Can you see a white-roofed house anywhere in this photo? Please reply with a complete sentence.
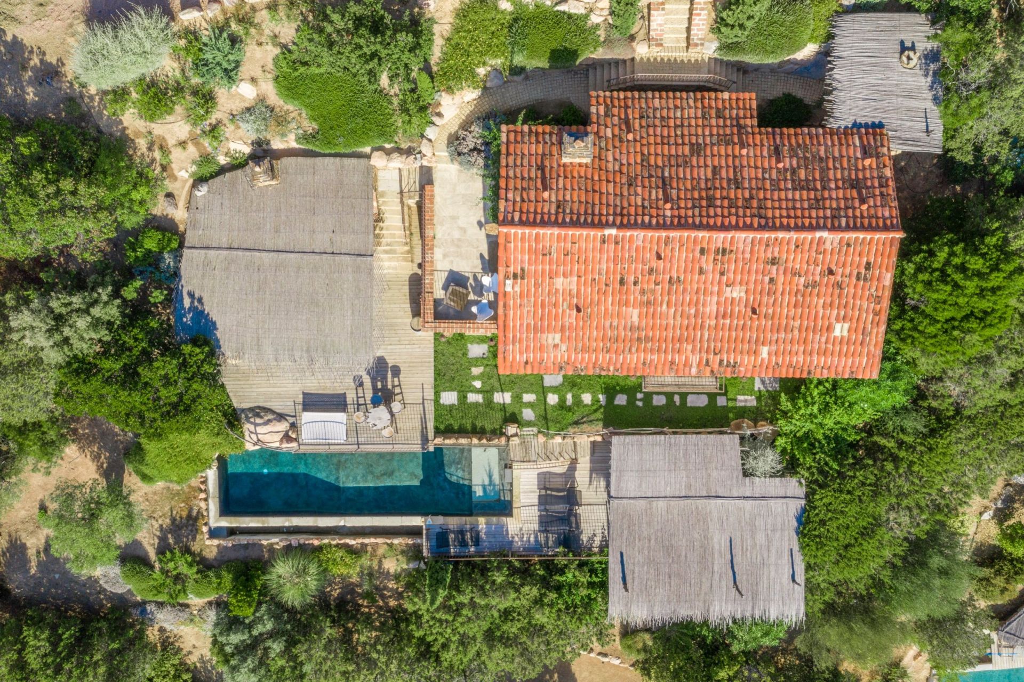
No, there appears to be no white-roofed house in this shot.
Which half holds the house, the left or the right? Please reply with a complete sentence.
The house is on the right side of the image.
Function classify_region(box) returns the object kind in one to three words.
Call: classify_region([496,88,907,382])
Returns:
house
